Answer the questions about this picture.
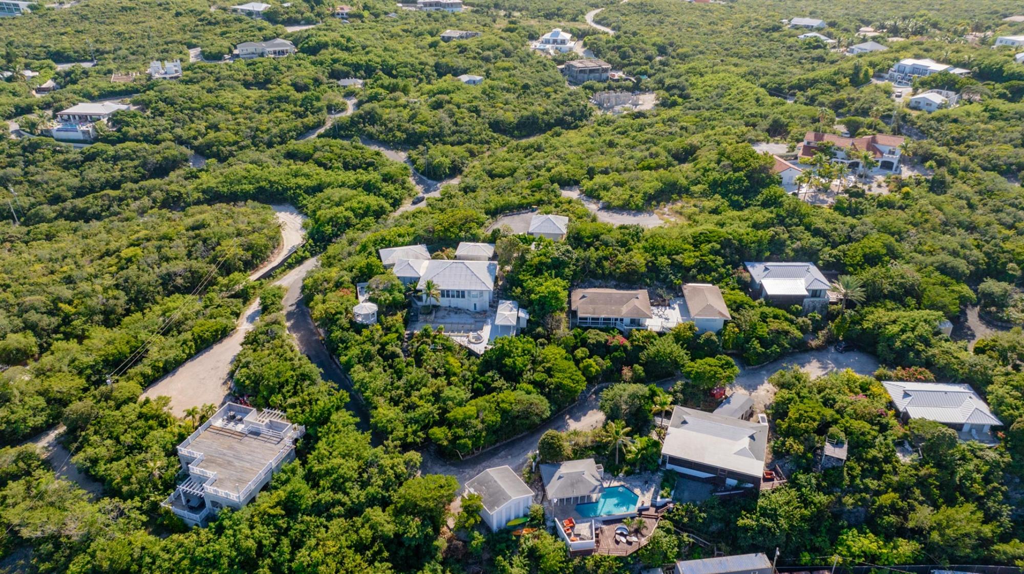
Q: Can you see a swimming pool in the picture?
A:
Yes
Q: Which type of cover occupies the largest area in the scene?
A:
trees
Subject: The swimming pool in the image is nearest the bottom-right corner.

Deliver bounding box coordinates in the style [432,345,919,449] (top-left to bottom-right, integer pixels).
[549,471,665,528]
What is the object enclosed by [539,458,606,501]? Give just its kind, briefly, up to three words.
building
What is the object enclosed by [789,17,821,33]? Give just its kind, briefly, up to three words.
house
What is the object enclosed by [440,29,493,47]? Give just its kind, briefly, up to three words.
house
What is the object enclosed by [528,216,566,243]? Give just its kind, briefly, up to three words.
building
